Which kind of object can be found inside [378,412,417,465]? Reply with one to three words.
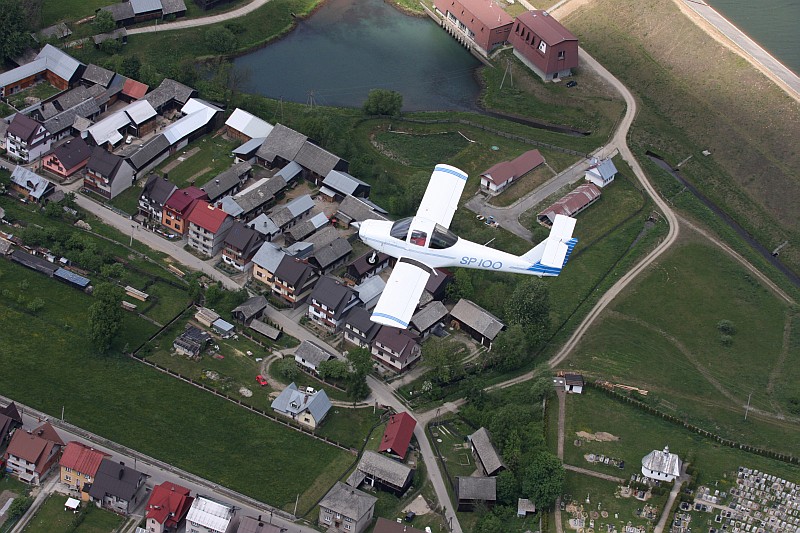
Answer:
house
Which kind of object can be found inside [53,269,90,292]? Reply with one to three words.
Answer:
shed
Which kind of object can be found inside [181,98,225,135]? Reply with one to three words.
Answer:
barn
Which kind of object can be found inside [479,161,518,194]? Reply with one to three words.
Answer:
building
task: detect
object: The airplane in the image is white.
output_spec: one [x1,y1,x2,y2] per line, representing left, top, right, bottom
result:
[351,168,580,328]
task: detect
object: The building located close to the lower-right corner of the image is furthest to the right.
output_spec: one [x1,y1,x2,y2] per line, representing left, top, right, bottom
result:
[640,441,684,485]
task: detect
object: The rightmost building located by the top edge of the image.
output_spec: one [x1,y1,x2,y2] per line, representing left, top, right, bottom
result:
[511,10,577,80]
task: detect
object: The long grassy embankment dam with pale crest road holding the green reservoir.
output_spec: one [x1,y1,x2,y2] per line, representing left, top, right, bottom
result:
[587,0,800,248]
